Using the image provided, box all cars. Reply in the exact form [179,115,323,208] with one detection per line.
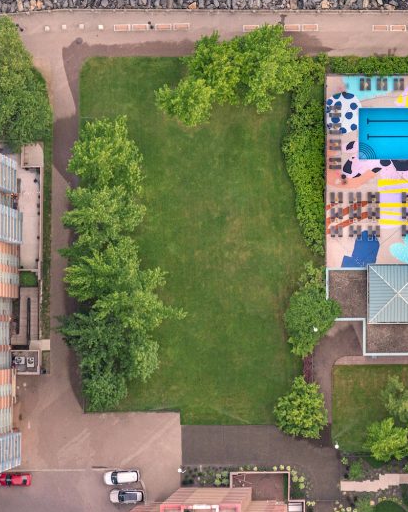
[104,470,138,486]
[110,489,143,504]
[0,473,31,487]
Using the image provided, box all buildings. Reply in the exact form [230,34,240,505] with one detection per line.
[327,264,408,355]
[0,154,25,478]
[128,488,288,512]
